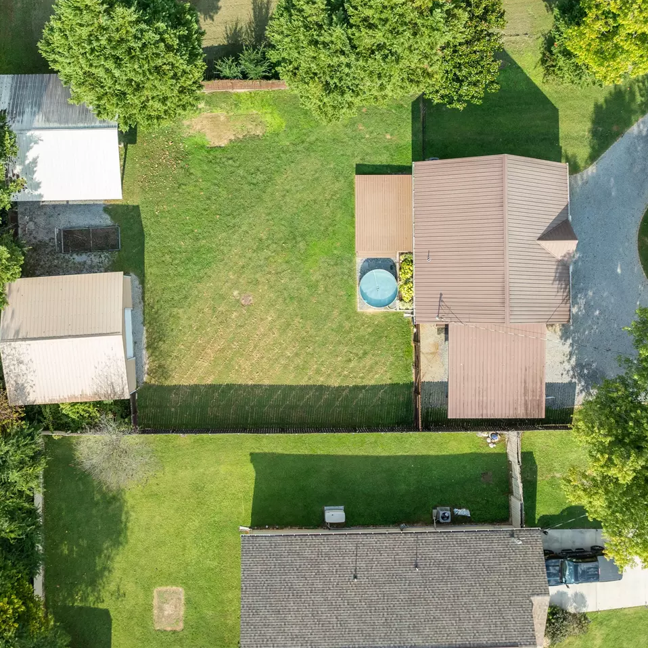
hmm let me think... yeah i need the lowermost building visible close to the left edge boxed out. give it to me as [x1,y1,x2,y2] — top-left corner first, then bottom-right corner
[3,273,138,405]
